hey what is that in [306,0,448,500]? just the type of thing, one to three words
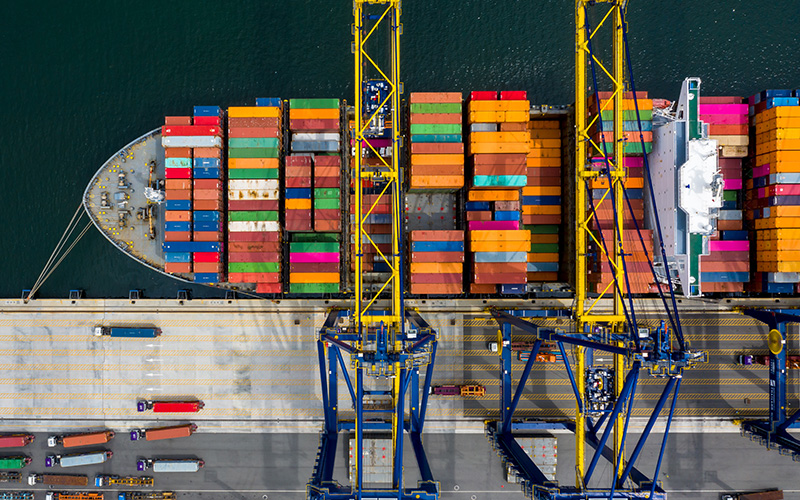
container crane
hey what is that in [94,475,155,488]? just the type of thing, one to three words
vehicle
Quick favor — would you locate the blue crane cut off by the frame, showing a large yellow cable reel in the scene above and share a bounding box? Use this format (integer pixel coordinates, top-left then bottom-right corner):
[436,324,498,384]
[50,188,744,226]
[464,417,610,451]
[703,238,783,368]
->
[733,307,800,457]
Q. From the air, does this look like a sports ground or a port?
port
